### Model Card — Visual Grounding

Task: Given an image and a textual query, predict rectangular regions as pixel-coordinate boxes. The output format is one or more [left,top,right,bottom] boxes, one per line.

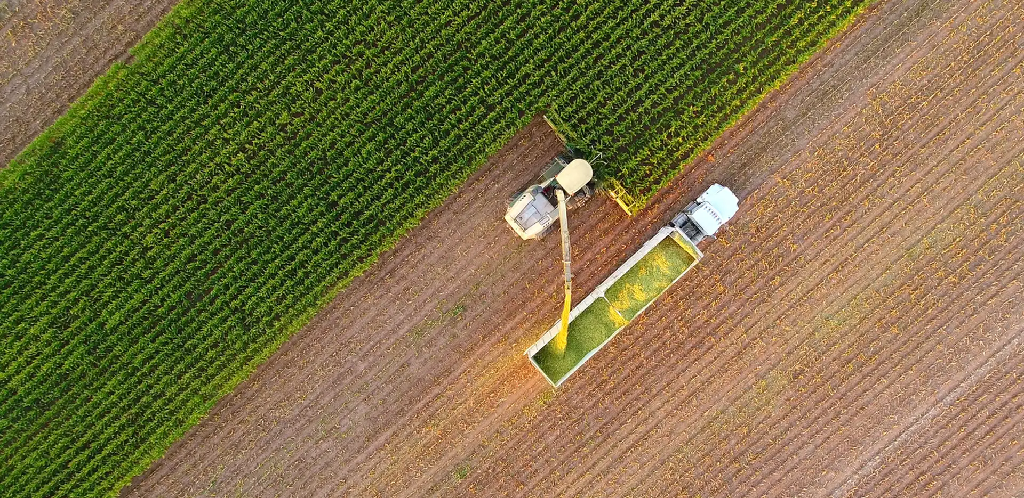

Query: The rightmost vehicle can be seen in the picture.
[641,184,737,247]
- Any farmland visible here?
Yes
